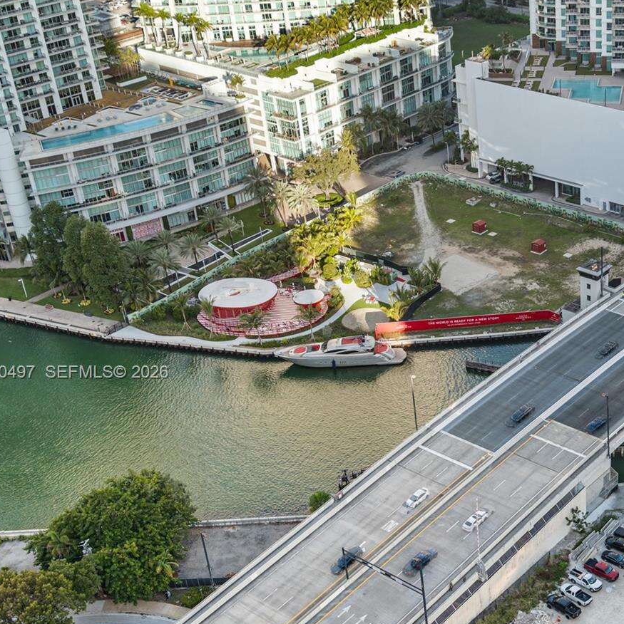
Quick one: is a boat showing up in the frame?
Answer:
Yes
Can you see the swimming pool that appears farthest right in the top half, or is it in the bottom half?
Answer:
top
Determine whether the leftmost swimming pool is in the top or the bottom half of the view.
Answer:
top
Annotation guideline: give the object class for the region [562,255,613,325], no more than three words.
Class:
house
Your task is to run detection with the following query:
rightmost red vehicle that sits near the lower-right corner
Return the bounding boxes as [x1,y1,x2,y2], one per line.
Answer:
[584,558,620,581]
